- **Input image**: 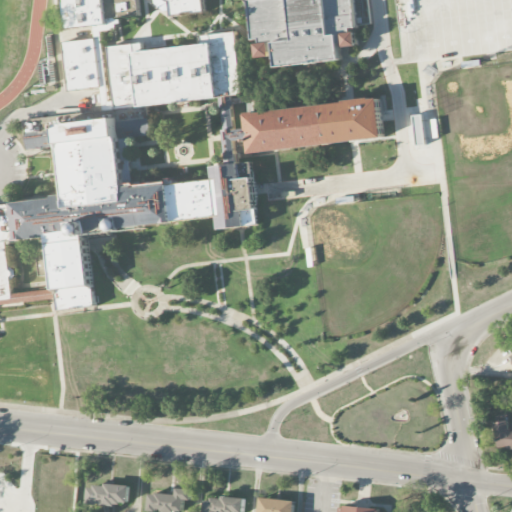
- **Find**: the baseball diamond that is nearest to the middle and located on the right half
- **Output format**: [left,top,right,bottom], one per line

[316,192,444,337]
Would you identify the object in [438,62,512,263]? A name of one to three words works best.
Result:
baseball field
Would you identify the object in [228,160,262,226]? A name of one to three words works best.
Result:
building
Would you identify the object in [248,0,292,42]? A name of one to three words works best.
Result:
building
